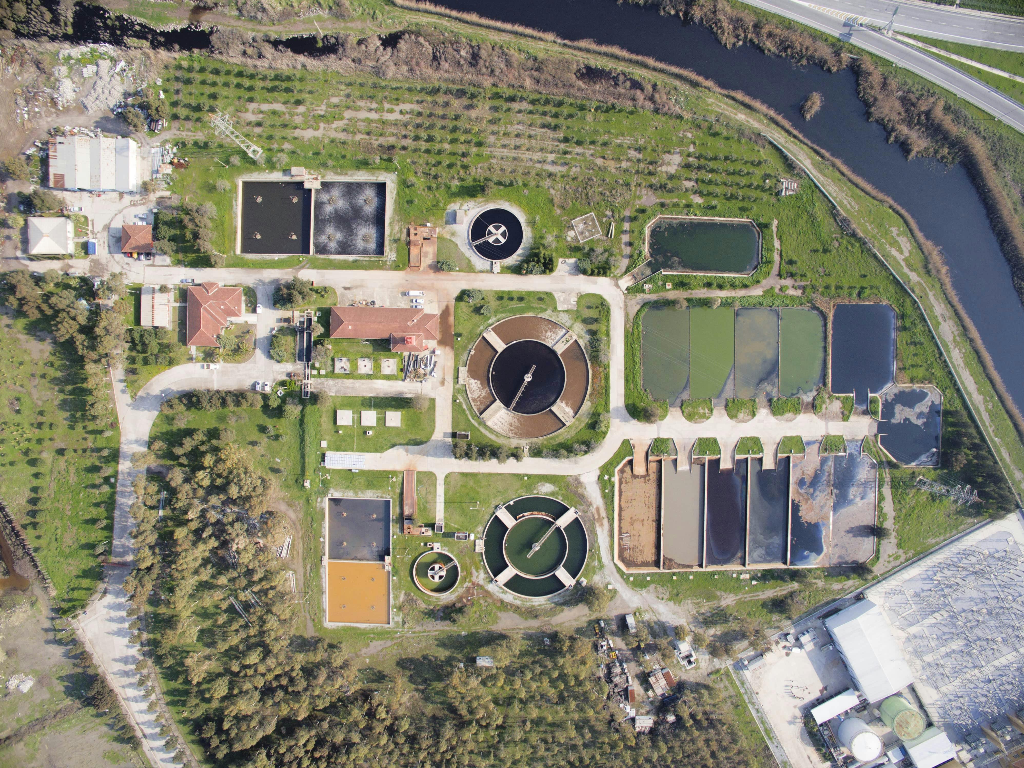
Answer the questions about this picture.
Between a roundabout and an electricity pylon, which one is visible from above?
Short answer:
electricity pylon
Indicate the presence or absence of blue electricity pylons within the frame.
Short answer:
No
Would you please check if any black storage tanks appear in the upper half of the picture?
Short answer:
Yes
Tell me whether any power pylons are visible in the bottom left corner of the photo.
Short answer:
No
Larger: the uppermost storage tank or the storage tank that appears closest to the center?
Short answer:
the storage tank that appears closest to the center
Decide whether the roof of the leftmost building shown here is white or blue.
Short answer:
white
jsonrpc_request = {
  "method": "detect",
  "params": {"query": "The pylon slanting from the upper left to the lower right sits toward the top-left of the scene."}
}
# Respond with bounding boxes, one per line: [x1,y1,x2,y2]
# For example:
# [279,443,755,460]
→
[210,109,263,162]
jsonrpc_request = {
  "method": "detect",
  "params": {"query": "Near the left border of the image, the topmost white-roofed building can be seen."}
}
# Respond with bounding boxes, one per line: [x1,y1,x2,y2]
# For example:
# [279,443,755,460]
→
[49,137,149,197]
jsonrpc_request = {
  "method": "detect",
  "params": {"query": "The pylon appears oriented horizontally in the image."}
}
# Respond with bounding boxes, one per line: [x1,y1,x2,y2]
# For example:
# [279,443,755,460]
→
[909,473,985,506]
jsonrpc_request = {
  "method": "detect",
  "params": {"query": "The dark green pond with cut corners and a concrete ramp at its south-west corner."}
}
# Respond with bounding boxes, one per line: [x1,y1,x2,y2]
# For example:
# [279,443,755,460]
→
[618,215,761,293]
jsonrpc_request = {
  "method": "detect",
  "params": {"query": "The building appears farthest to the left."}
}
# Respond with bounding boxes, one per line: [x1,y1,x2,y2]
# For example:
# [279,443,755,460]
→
[27,217,76,255]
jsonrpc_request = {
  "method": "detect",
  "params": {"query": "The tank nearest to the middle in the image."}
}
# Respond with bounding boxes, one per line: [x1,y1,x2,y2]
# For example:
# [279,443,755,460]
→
[458,315,590,439]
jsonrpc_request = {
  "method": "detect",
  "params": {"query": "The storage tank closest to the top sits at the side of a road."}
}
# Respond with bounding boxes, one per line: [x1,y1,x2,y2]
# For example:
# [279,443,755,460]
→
[470,207,524,272]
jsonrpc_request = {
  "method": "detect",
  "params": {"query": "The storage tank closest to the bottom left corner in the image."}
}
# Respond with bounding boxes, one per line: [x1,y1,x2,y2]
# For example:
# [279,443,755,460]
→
[413,543,460,597]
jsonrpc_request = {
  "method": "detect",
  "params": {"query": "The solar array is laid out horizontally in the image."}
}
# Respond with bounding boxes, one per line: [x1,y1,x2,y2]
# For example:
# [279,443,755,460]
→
[326,454,366,468]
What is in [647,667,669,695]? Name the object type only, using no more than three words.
shed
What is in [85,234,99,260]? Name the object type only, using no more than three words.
vehicle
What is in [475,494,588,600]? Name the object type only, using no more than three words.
storage tank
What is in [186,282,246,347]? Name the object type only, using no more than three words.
house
